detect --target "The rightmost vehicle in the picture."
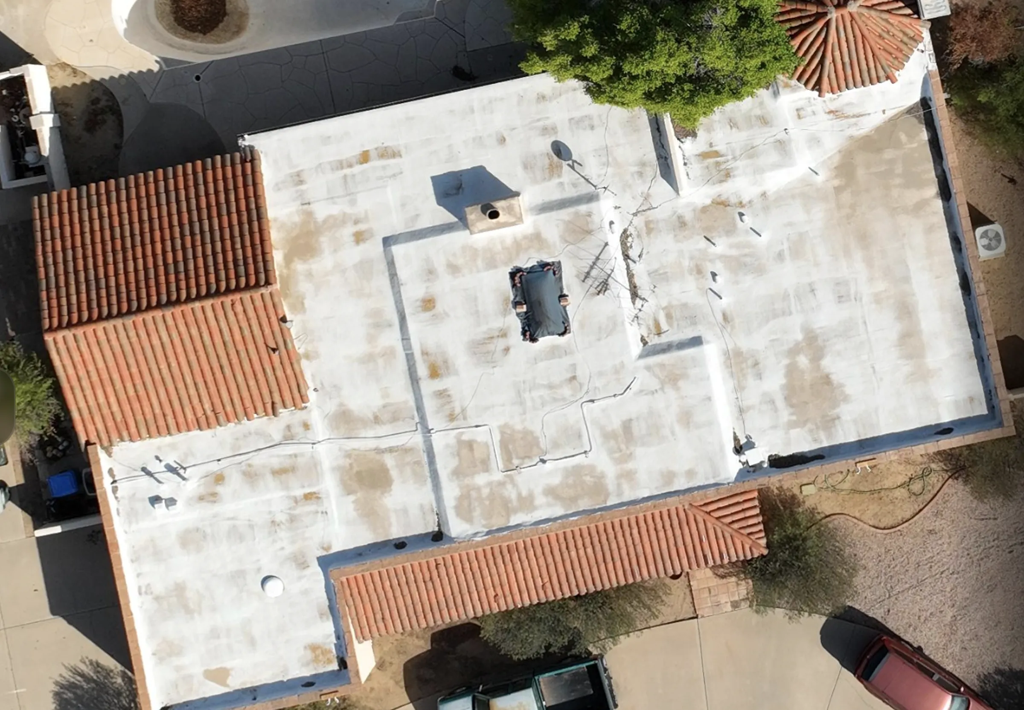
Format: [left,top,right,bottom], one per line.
[852,633,992,710]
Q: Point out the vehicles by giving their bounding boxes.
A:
[440,651,620,710]
[852,633,992,710]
